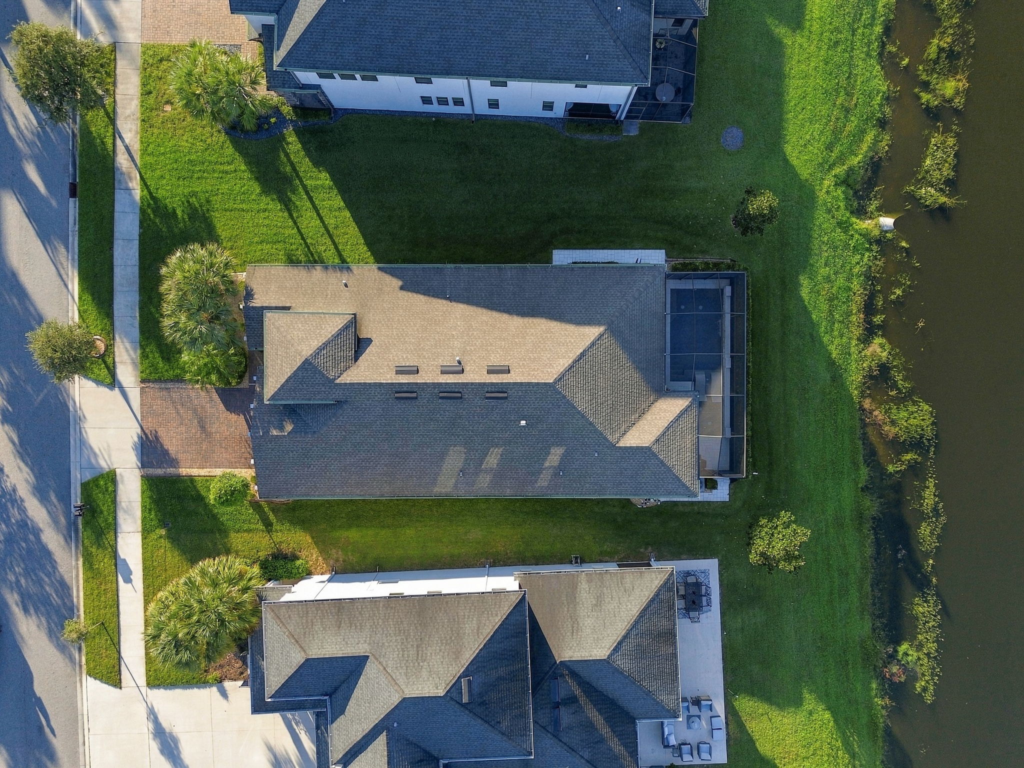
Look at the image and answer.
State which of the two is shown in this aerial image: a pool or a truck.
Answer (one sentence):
The one in the frame is a pool.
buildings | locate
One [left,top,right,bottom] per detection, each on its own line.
[226,0,712,121]
[246,555,682,768]
[240,265,699,500]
